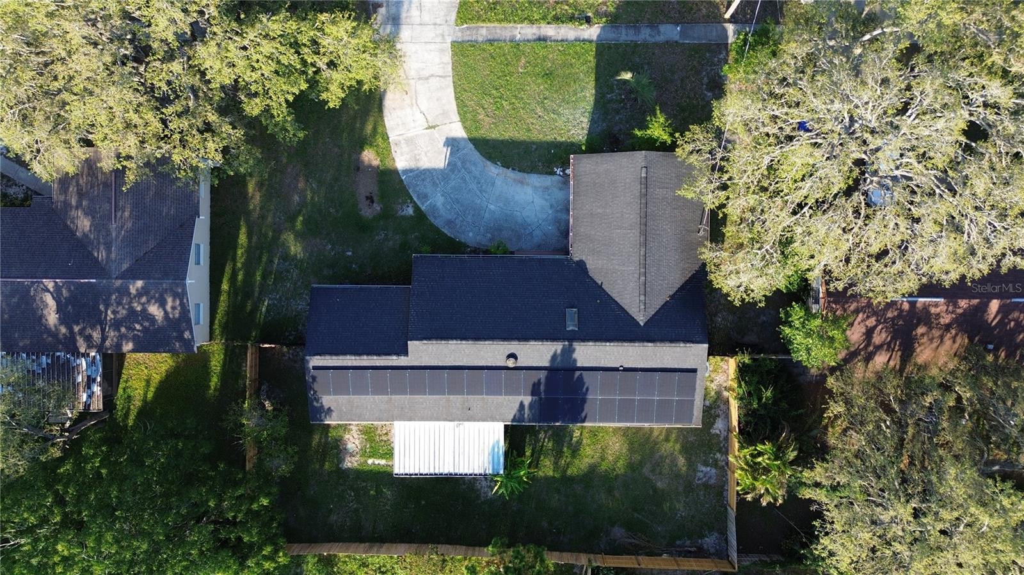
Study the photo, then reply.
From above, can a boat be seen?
No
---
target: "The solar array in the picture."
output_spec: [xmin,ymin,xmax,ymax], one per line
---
[312,371,697,425]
